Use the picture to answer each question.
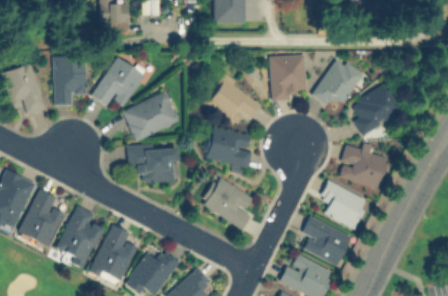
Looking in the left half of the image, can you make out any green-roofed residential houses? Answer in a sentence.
No, no green-roofed residential house is visible in the left half of the image.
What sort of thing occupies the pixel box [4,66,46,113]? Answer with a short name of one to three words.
house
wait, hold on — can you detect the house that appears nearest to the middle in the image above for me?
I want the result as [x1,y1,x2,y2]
[206,126,251,171]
